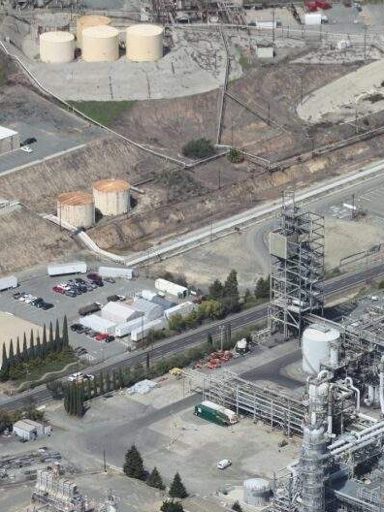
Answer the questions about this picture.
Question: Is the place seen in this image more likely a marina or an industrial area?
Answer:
industrial area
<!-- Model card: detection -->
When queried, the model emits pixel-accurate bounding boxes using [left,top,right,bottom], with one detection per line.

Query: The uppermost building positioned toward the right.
[251,45,278,63]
